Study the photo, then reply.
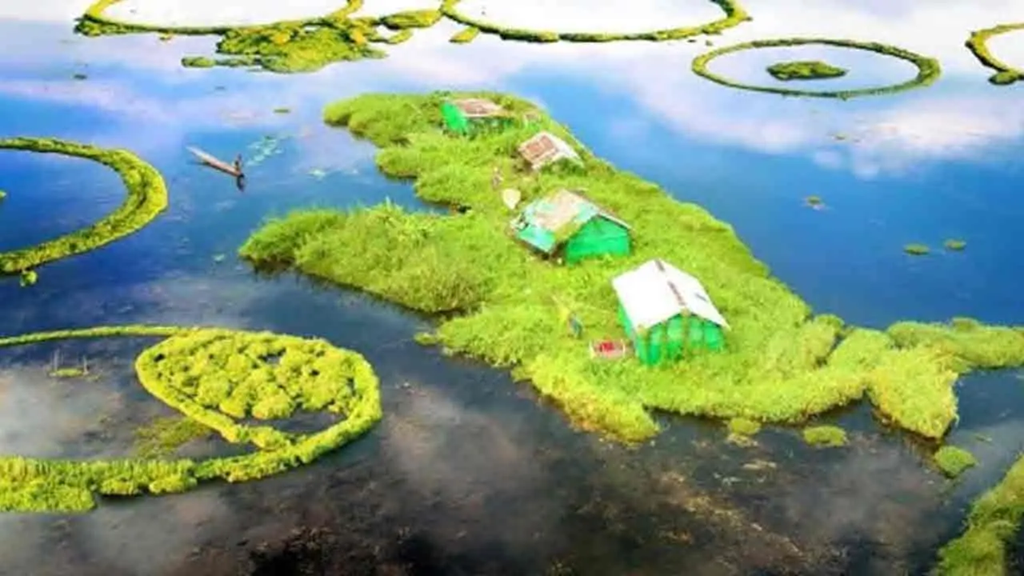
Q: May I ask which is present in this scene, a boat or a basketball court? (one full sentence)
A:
Visible in the photo is a boat.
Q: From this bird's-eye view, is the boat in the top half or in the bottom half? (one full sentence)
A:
Seen from above, the boat lies in the top half of the view.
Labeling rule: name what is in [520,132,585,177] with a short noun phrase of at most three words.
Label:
shed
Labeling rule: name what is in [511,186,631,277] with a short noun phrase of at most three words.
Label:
shed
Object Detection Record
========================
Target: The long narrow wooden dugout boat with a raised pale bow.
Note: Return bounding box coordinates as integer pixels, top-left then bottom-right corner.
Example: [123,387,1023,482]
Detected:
[186,141,243,175]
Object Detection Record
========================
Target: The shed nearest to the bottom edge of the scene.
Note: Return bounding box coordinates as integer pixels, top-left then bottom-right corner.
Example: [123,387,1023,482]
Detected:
[612,262,730,362]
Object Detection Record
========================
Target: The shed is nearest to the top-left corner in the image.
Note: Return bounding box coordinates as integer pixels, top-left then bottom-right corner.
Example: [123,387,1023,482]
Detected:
[439,94,514,137]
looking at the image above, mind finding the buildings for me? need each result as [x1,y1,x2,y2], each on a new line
[525,110,540,125]
[439,94,514,137]
[511,186,631,277]
[612,262,730,362]
[520,132,585,177]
